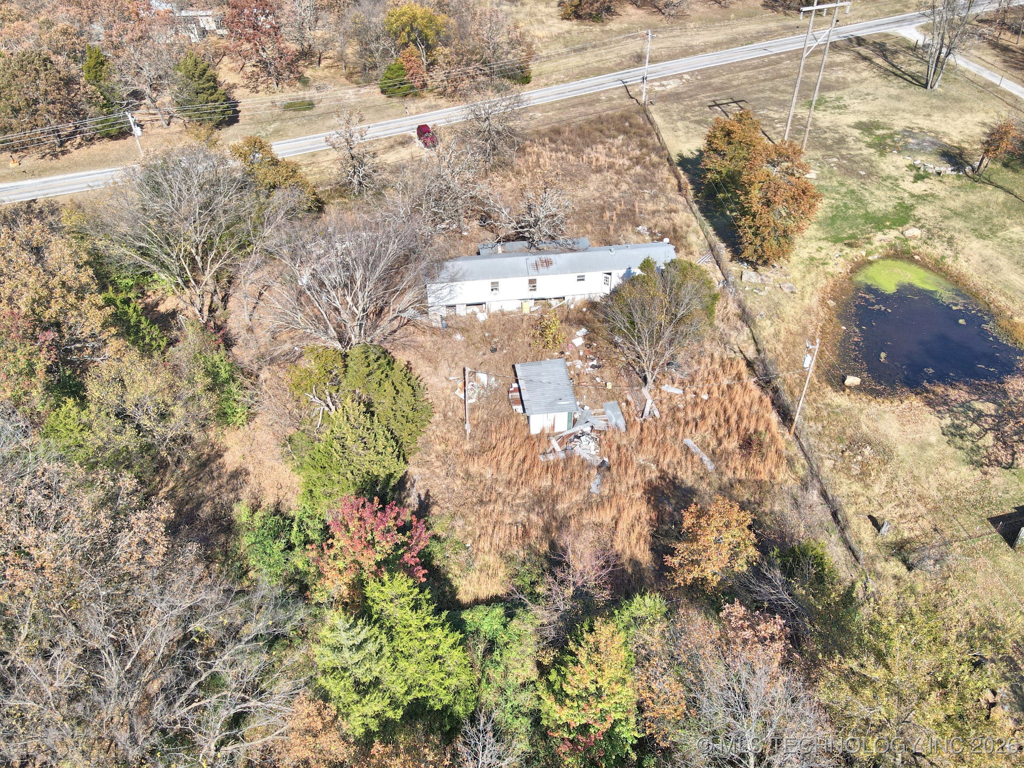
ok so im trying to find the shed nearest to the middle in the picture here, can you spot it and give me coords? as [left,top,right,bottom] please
[510,357,576,439]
